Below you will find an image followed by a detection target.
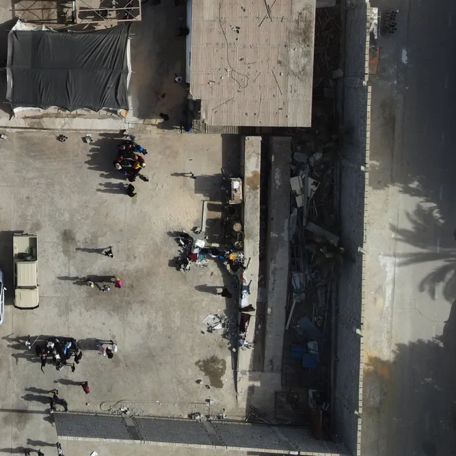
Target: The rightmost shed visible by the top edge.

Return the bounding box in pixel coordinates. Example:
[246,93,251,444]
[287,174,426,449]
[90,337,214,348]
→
[187,0,315,129]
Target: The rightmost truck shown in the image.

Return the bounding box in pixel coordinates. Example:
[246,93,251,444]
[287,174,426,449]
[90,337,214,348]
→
[11,234,42,310]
